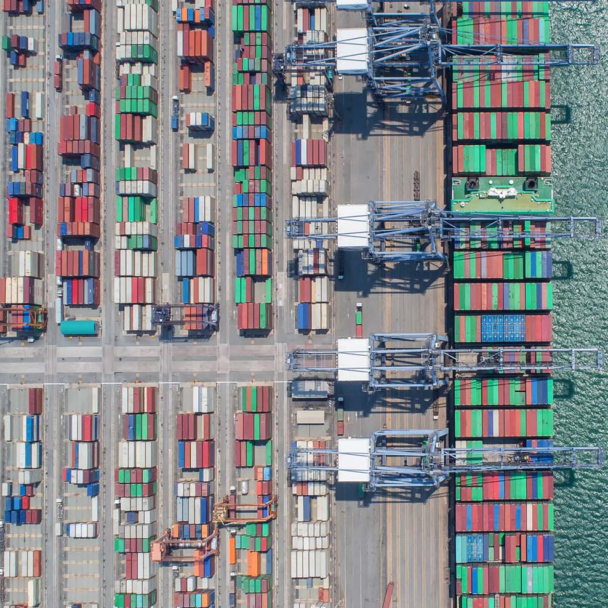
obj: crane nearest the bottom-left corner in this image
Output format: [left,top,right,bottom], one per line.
[148,527,217,562]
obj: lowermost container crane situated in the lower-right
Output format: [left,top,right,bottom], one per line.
[280,421,603,491]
